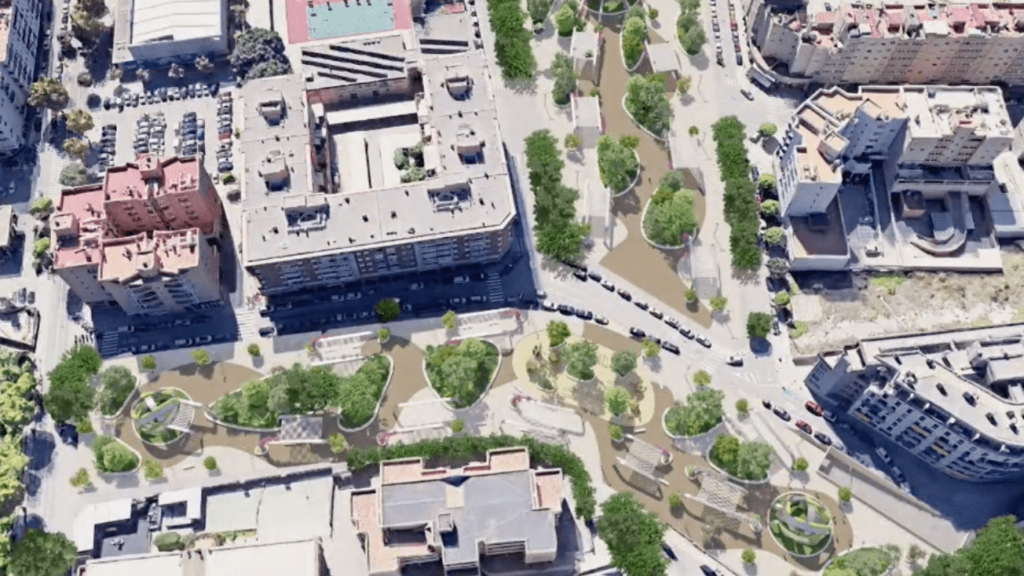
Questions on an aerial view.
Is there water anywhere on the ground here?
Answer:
No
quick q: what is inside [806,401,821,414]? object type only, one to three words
vehicle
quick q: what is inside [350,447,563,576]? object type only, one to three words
building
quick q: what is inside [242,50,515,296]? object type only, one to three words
building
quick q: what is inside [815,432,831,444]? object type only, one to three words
vehicle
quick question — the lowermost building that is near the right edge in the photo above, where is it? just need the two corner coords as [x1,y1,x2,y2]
[801,326,1024,483]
